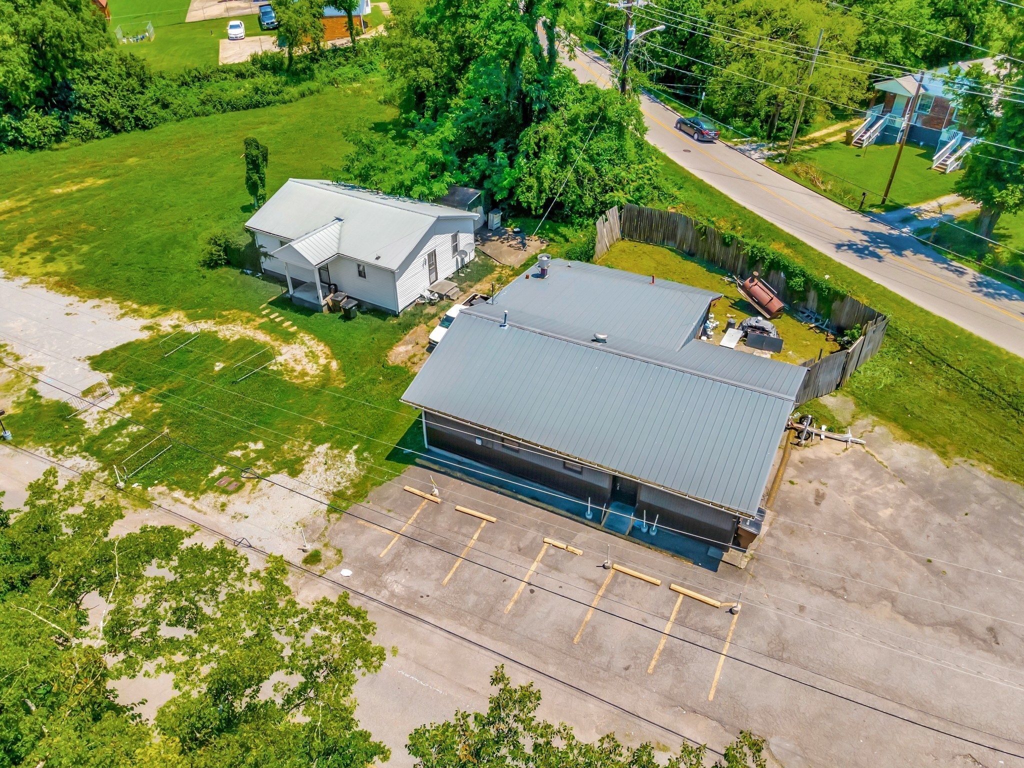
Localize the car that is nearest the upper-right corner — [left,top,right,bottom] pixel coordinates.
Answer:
[678,121,719,144]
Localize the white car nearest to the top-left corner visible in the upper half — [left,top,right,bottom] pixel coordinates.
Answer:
[227,23,245,40]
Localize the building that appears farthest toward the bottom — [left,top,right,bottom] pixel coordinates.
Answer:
[397,258,807,553]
